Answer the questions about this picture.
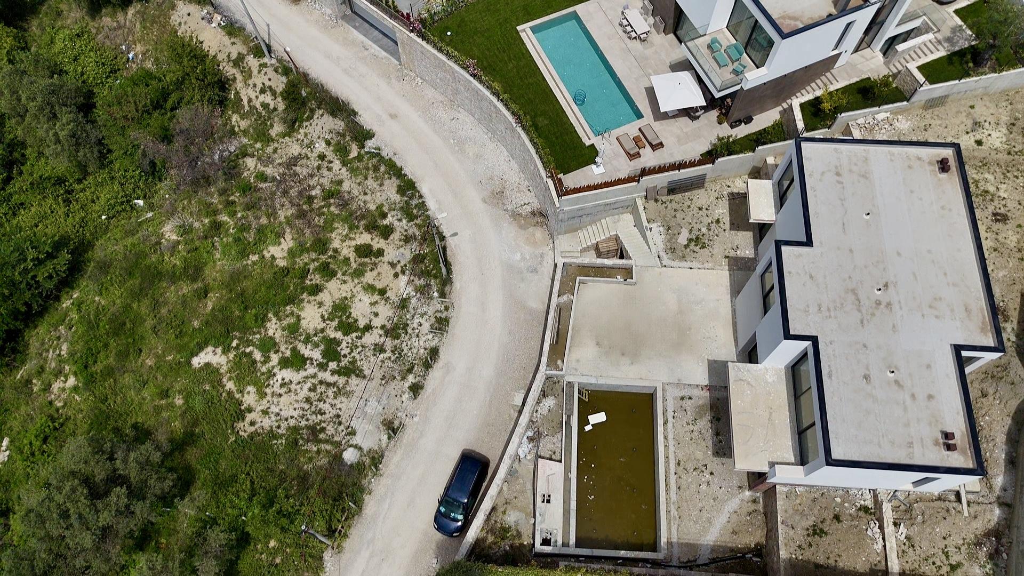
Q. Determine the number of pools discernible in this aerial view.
2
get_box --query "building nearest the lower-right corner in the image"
[727,136,1007,492]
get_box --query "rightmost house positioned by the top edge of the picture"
[640,0,943,126]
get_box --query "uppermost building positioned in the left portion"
[339,0,401,66]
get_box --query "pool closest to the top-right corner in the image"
[509,3,652,150]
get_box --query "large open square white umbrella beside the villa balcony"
[651,71,706,121]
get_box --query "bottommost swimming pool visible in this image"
[570,381,667,558]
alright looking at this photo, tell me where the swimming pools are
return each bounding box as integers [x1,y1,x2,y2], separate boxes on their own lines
[509,3,652,150]
[570,381,667,558]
